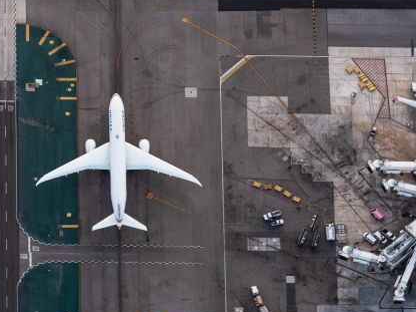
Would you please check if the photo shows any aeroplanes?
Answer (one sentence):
Yes, the photo shows an aeroplane.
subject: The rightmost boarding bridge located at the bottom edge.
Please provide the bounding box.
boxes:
[394,244,416,305]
